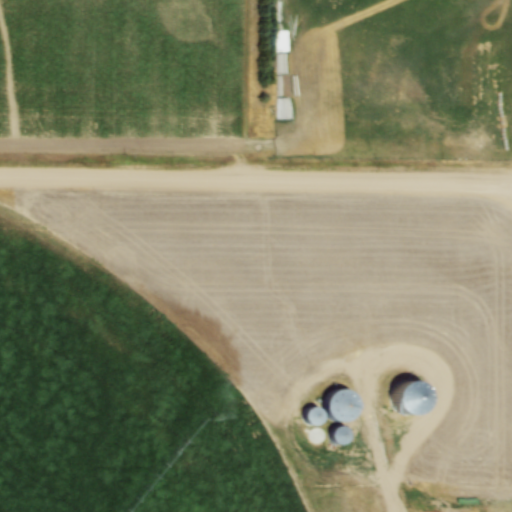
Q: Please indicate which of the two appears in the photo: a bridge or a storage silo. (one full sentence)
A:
I can see a storage silo in this picture.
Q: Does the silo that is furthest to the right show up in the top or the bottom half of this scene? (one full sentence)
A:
Seen from above, the silo that is furthest to the right lies in the bottom half of the view.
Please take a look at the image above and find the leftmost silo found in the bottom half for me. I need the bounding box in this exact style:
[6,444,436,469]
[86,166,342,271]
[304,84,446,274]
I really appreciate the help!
[302,406,328,427]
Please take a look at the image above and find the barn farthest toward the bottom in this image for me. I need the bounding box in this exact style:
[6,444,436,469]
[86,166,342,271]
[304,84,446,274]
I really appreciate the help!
[275,98,294,120]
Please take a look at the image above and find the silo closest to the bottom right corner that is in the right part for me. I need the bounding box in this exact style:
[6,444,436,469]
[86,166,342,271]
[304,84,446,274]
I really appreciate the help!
[391,380,436,416]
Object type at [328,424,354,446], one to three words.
silo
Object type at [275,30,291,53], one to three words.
barn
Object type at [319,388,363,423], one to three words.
silo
